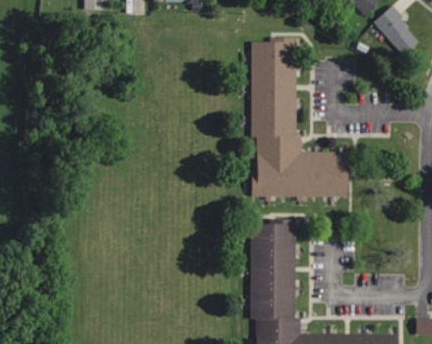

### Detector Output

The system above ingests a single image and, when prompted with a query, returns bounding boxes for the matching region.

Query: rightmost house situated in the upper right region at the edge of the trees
[374,4,419,49]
